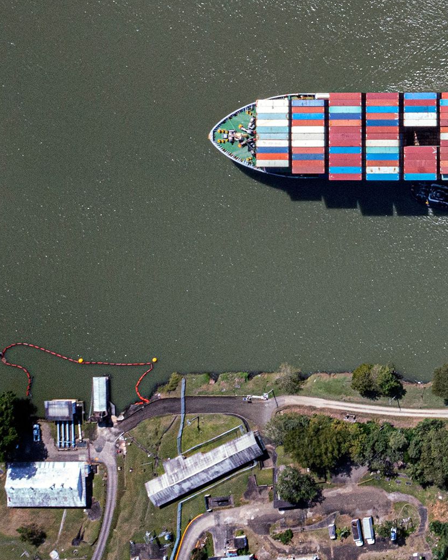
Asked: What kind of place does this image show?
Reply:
port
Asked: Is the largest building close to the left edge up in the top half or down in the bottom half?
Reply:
bottom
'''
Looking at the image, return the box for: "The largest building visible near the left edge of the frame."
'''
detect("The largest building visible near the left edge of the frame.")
[5,457,96,507]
